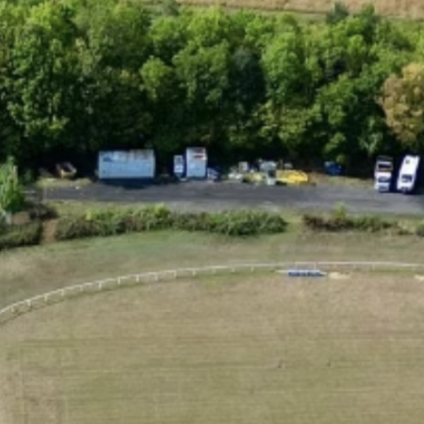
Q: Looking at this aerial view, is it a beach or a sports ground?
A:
sports ground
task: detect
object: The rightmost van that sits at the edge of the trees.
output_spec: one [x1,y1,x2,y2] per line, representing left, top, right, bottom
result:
[396,152,424,189]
